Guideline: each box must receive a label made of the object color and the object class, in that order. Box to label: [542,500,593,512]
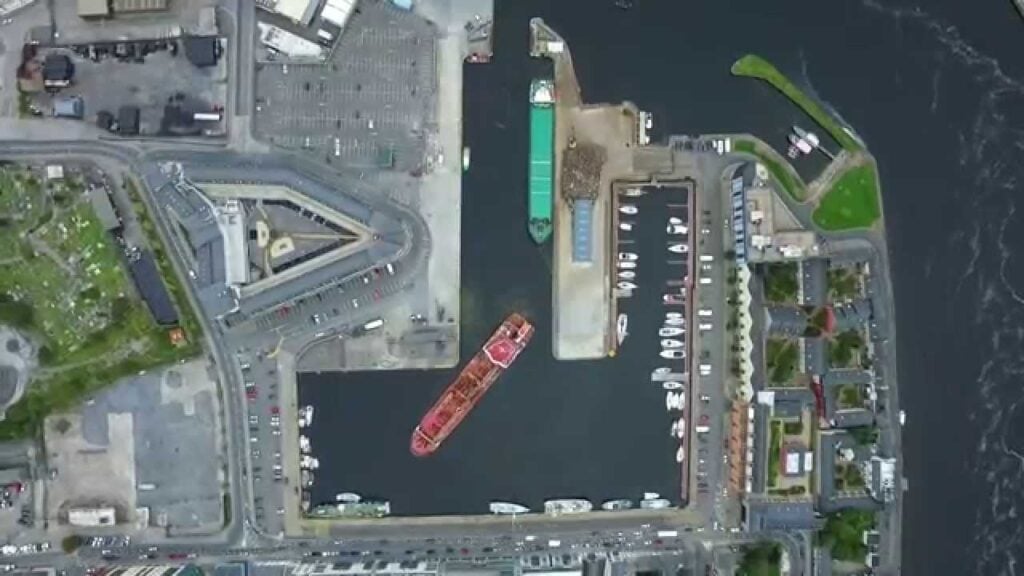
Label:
white boat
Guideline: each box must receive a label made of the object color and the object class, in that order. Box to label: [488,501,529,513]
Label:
white boat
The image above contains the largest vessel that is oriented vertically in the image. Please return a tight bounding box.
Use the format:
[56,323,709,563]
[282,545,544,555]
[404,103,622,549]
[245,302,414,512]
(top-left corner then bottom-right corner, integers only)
[530,78,554,242]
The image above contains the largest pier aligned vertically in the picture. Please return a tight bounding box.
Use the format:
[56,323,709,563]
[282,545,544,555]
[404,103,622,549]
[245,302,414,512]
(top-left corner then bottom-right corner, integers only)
[530,17,661,358]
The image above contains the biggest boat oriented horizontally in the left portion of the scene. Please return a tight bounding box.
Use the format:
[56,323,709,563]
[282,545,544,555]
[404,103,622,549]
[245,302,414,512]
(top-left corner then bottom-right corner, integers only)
[309,502,390,518]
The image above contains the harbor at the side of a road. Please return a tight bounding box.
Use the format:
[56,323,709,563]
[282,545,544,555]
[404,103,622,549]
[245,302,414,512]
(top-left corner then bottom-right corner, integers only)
[277,0,700,534]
